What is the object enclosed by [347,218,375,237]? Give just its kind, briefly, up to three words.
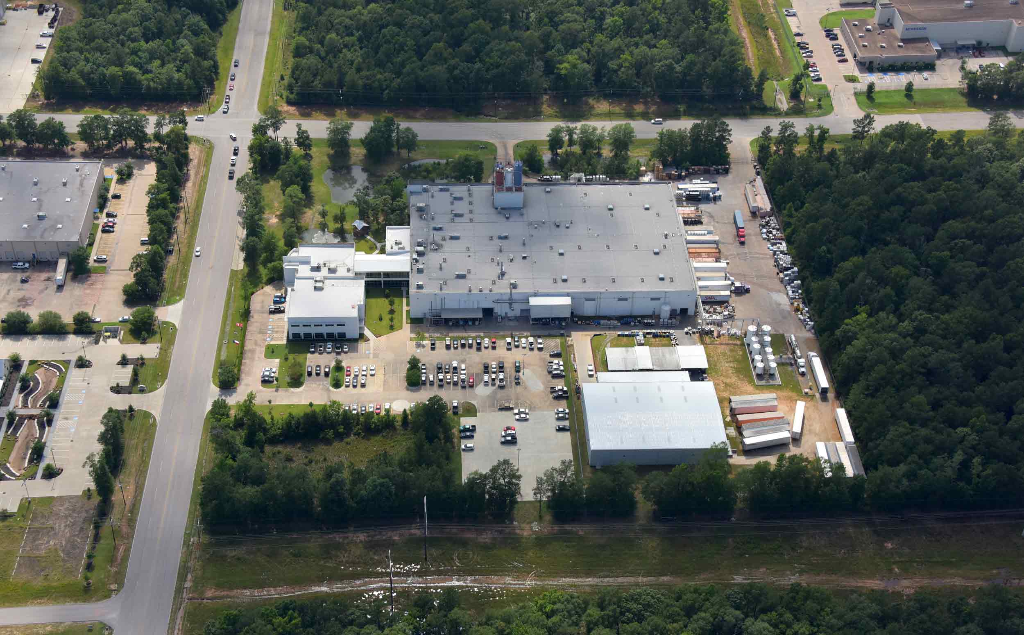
gazebo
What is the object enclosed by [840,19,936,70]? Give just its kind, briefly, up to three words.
building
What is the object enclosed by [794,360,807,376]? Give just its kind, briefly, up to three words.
vehicle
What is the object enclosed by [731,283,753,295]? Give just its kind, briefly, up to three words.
vehicle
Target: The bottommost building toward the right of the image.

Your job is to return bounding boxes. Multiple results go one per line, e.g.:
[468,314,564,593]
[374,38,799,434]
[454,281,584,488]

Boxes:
[581,381,729,467]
